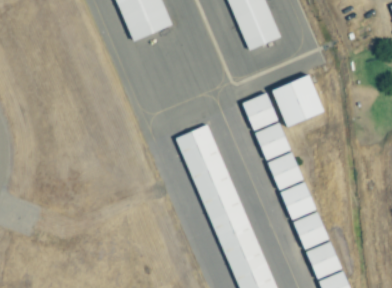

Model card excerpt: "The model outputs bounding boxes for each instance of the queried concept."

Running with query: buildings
[320,272,350,288]
[272,75,324,127]
[116,0,173,41]
[307,242,342,279]
[176,124,279,288]
[294,212,329,250]
[282,182,316,220]
[228,0,282,50]
[256,123,290,160]
[242,94,278,131]
[268,153,304,190]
